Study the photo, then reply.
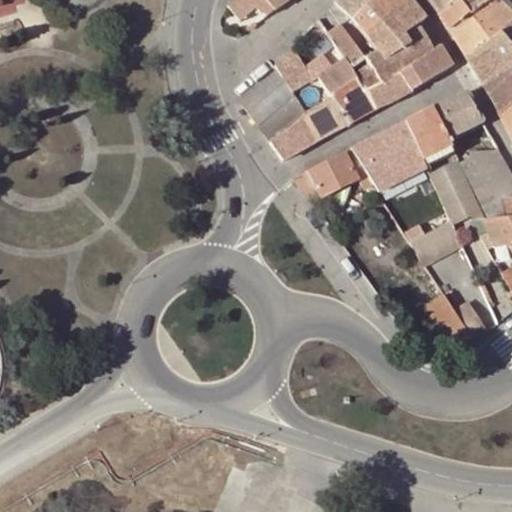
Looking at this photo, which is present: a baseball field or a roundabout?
roundabout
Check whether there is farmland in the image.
No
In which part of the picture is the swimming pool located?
top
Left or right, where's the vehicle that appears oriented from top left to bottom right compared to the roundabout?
to the right of it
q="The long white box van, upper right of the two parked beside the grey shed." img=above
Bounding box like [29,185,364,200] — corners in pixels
[248,58,275,83]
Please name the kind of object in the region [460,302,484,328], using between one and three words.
shed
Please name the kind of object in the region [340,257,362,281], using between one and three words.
vehicle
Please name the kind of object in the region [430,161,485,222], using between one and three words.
barn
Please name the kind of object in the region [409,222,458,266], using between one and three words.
house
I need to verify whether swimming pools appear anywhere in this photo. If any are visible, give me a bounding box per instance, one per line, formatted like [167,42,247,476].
[300,86,320,106]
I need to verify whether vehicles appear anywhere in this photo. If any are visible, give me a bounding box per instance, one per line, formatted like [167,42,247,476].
[340,257,362,281]
[230,196,240,216]
[141,315,152,338]
[248,58,275,83]
[230,78,252,98]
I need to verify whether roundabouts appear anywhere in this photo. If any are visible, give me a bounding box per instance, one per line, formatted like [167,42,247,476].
[114,242,298,426]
